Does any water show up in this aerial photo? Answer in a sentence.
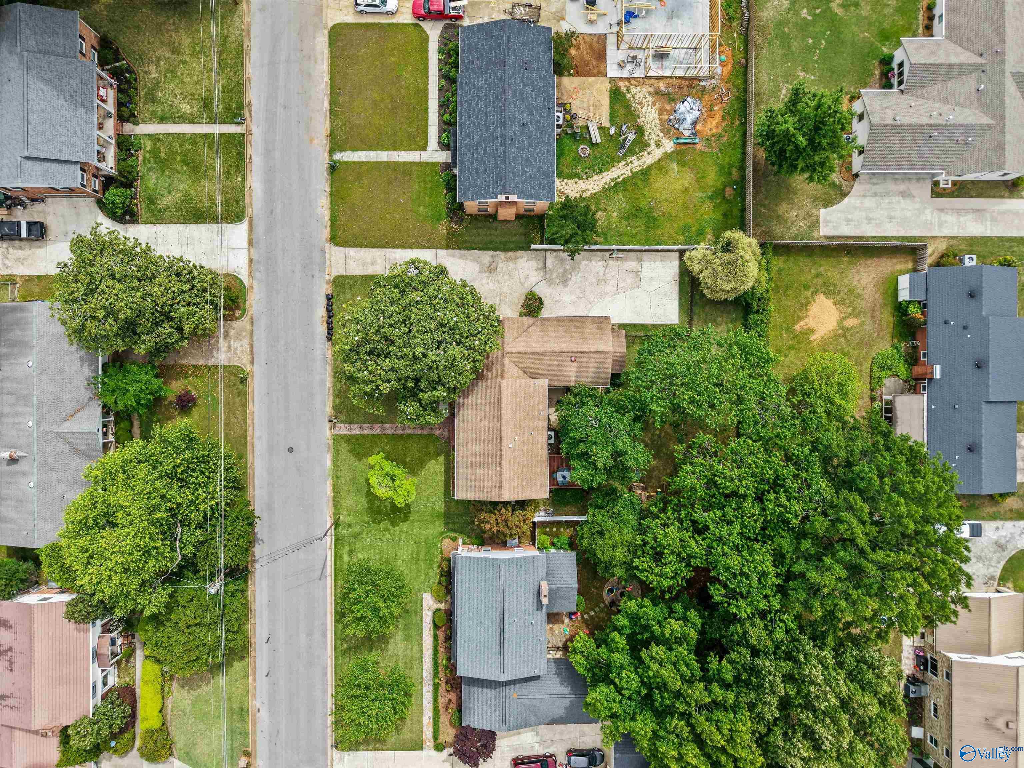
No, there is no water in the image.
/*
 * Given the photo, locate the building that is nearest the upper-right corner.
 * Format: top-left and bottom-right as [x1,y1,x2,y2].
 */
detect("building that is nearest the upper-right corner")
[852,0,1024,198]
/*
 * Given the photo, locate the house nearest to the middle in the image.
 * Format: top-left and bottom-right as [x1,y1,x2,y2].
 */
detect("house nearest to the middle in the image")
[451,315,627,505]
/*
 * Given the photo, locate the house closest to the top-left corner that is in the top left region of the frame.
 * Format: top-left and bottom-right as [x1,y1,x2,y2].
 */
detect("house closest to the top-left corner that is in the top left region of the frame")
[0,1,129,197]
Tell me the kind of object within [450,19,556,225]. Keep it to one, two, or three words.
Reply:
house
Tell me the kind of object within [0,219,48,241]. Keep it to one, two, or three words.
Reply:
truck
